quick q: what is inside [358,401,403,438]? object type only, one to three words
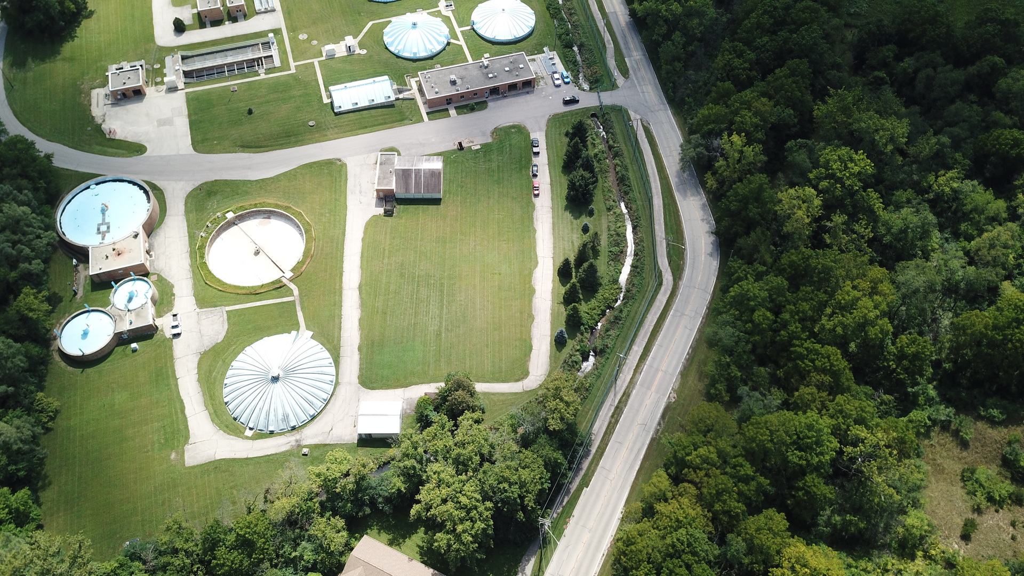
barn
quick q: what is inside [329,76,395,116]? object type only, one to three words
shed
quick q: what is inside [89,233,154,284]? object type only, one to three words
building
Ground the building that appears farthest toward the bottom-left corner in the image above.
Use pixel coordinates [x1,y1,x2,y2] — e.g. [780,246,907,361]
[109,301,157,341]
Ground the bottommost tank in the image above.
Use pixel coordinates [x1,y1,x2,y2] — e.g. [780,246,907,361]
[57,306,118,362]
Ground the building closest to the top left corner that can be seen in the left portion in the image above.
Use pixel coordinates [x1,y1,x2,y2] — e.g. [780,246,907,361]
[110,67,146,101]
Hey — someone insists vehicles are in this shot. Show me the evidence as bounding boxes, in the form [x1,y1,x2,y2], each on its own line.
[533,181,540,196]
[561,71,570,83]
[532,164,539,176]
[551,71,561,86]
[531,138,540,154]
[562,95,580,104]
[170,313,181,336]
